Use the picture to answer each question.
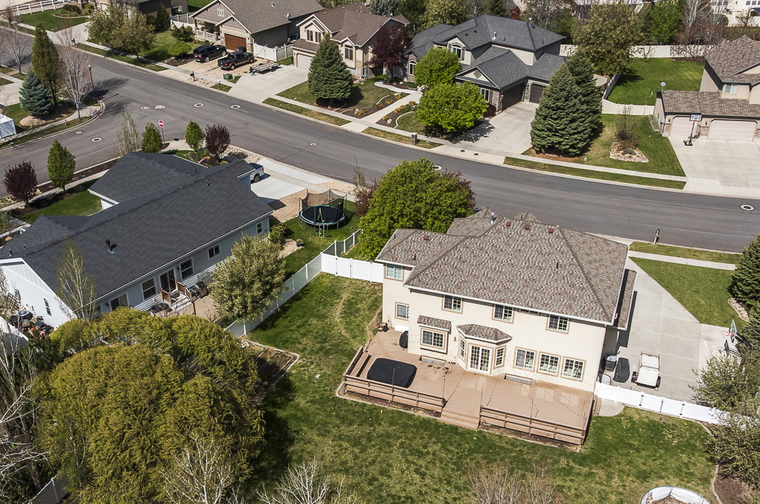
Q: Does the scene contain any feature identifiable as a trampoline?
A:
Yes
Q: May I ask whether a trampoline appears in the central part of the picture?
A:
Yes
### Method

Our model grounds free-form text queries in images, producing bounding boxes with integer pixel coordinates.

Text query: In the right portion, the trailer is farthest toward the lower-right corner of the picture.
[631,349,666,389]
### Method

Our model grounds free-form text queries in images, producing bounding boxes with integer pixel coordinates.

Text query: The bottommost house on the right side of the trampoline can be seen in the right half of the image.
[375,208,644,392]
